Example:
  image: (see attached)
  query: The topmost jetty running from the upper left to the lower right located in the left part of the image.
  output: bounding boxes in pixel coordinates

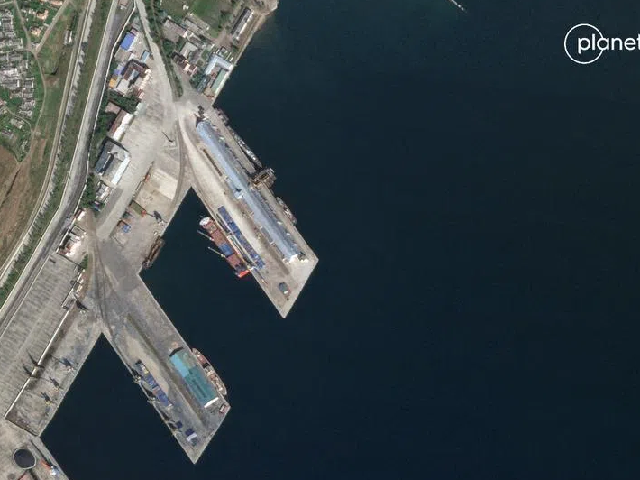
[190,105,319,317]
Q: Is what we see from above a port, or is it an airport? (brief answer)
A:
port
